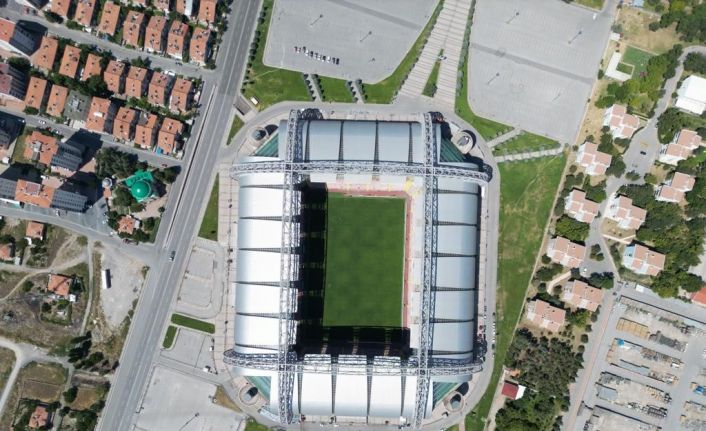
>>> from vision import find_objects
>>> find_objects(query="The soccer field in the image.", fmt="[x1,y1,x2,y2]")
[302,188,411,348]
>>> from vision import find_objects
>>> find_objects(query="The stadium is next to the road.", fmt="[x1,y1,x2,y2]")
[223,108,490,429]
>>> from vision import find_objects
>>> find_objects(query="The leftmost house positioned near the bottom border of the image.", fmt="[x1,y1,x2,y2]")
[28,403,54,429]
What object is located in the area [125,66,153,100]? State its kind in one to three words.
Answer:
house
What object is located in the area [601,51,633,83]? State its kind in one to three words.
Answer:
building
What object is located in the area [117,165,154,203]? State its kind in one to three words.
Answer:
building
